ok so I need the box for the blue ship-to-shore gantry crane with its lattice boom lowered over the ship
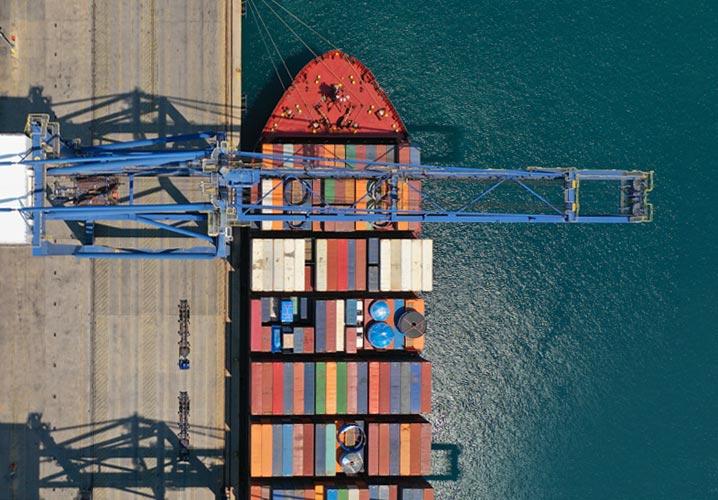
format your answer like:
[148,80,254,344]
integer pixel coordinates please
[0,110,654,260]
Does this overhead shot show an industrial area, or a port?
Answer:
port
